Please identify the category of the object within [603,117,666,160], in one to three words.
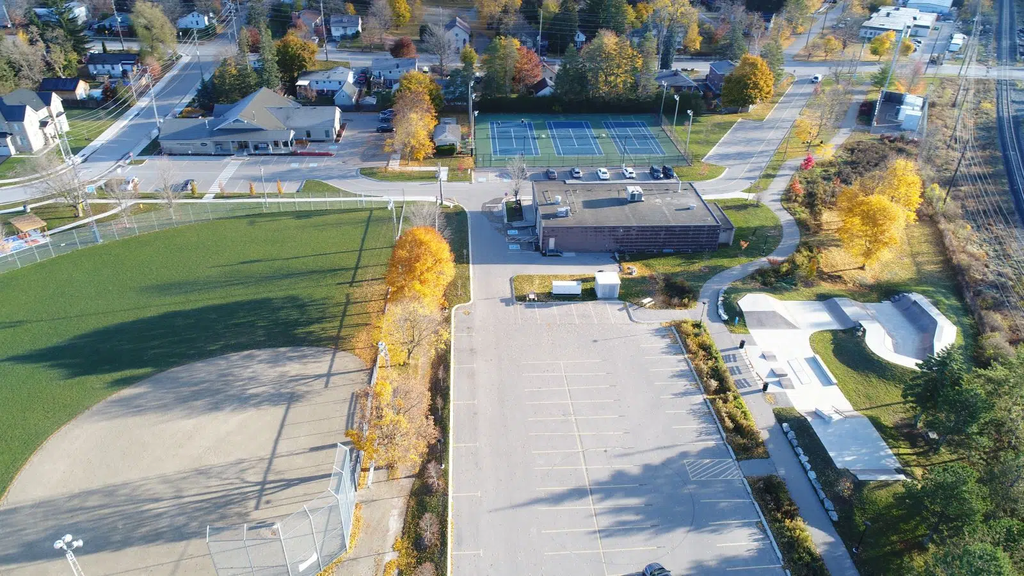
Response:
tennis court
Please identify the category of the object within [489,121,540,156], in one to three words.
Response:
tennis court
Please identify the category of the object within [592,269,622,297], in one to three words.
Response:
shed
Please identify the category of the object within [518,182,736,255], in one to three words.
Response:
building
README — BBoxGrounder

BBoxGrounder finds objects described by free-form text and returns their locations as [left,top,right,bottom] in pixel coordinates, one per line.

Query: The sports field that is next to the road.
[0,204,401,576]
